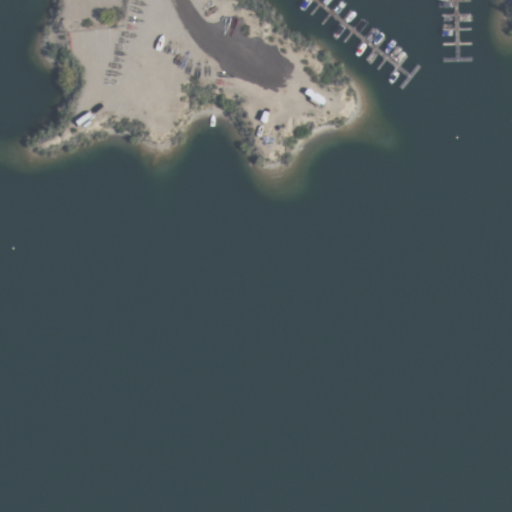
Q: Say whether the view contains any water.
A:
Yes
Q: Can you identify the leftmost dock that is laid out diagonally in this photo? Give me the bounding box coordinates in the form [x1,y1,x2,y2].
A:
[310,0,422,88]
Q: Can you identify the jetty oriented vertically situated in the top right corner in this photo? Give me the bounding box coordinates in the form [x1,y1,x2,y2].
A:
[441,0,472,62]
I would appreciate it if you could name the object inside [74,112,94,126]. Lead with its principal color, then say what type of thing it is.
white vehicle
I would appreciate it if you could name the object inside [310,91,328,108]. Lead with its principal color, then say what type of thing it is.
white vehicle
